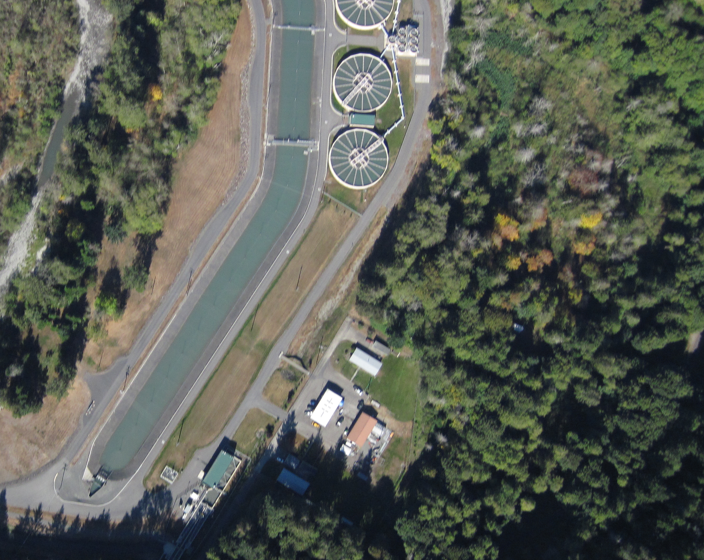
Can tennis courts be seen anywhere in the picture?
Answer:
No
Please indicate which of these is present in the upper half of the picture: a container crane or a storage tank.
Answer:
storage tank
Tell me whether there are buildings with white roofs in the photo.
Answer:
Yes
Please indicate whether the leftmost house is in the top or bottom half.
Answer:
bottom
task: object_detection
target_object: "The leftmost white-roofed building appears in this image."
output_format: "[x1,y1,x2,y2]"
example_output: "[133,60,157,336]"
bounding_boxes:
[310,389,343,427]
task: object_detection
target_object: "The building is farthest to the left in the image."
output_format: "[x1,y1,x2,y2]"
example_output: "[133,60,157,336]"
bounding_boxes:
[203,449,234,488]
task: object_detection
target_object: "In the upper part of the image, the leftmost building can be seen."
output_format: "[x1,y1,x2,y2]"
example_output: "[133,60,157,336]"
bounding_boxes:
[349,114,375,127]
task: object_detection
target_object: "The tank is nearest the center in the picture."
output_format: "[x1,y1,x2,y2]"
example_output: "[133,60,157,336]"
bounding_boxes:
[329,129,388,188]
